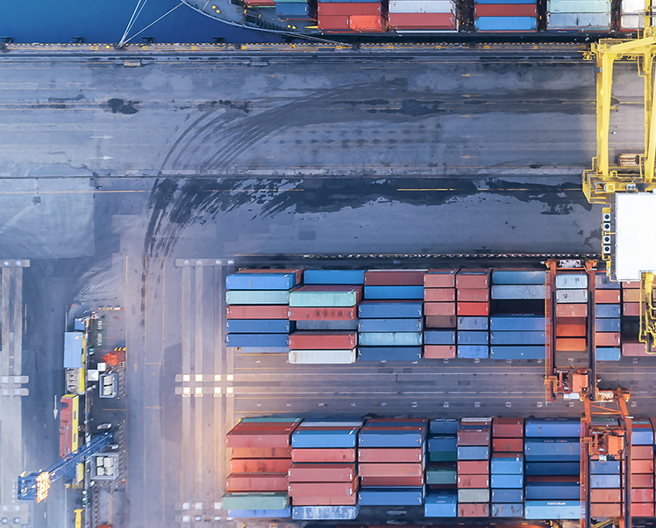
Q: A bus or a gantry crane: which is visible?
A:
gantry crane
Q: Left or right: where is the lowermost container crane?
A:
right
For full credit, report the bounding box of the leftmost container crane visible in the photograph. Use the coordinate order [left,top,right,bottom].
[543,260,600,406]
